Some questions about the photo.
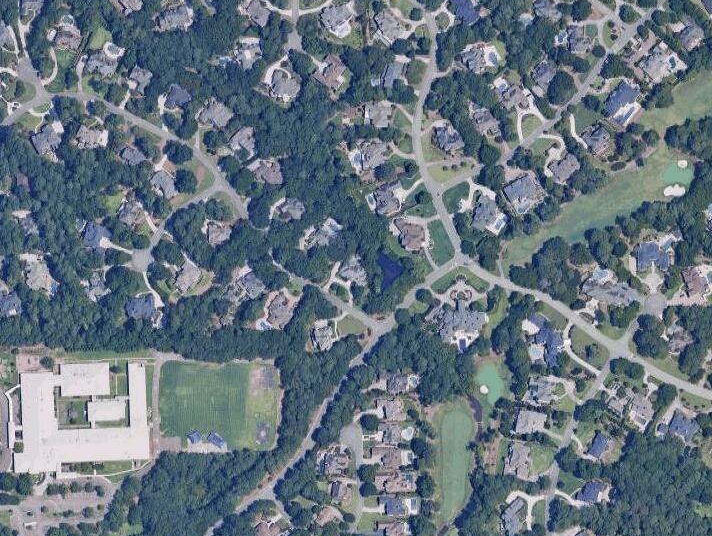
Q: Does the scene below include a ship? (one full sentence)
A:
No, I find no ship anywhere in the image.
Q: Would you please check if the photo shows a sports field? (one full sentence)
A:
Yes, there's a sports field down there.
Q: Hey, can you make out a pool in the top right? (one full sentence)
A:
Yes, in the top right there is a pool.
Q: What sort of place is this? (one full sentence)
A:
What you see here is a residential area.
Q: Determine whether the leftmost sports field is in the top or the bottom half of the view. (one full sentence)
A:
You can find the leftmost sports field in the bottom half.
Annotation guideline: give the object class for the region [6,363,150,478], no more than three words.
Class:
building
